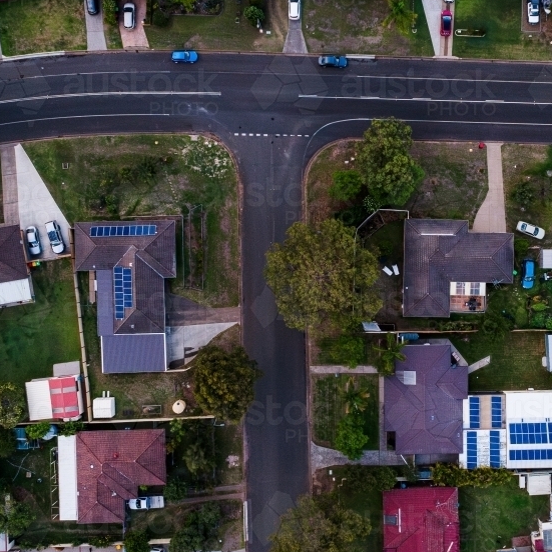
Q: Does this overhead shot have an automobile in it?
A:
Yes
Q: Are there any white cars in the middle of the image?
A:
No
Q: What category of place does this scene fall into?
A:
residential area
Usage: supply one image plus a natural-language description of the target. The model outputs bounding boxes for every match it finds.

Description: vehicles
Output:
[526,0,540,24]
[318,55,347,67]
[122,4,136,30]
[45,221,65,254]
[129,495,165,511]
[521,258,535,288]
[25,227,42,256]
[147,546,167,552]
[287,0,300,21]
[171,50,198,64]
[440,11,453,37]
[516,220,545,239]
[86,0,100,17]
